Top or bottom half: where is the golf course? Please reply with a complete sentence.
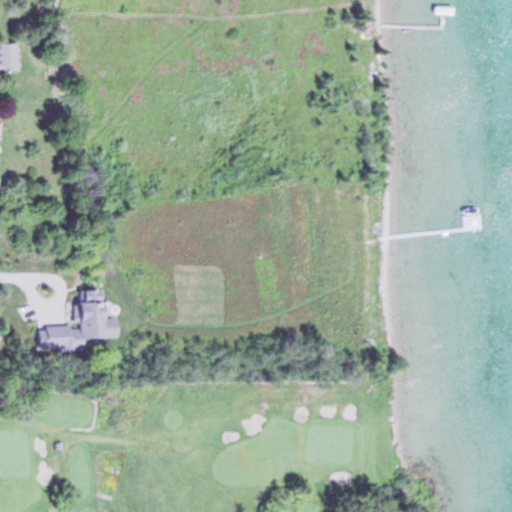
Seen from above, the golf course lies in the bottom half of the view.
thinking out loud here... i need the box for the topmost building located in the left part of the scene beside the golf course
[38,291,122,352]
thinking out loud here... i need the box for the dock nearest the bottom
[366,214,482,245]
